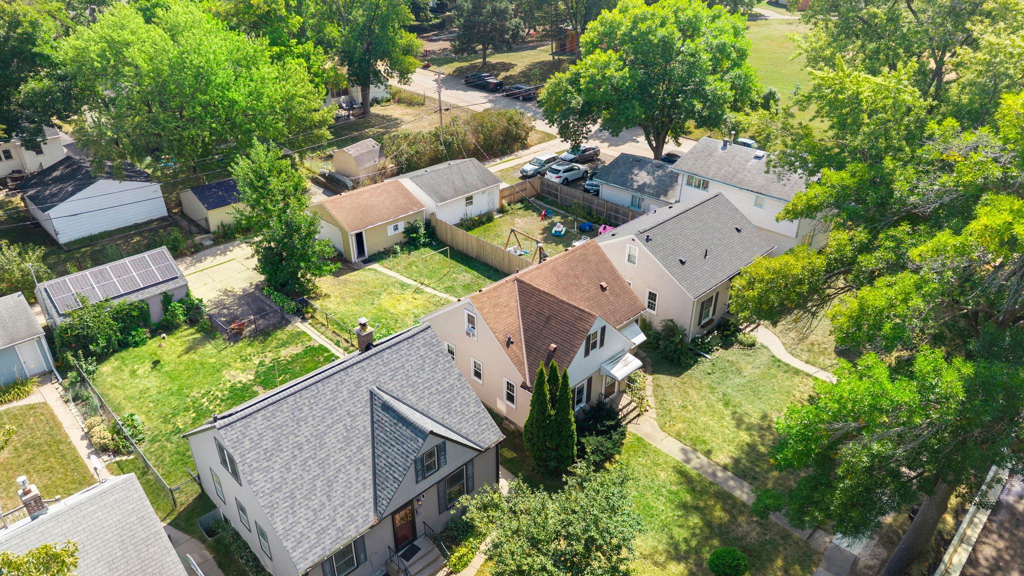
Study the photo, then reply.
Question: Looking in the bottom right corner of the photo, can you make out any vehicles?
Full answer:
No, I see no vehicle in the bottom right corner of the photo.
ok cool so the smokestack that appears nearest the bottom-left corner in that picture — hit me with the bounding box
[16,477,50,523]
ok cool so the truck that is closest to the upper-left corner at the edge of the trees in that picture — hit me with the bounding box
[464,70,504,91]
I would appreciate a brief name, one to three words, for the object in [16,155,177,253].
building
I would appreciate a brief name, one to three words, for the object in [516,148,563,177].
car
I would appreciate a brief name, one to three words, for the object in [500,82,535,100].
car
